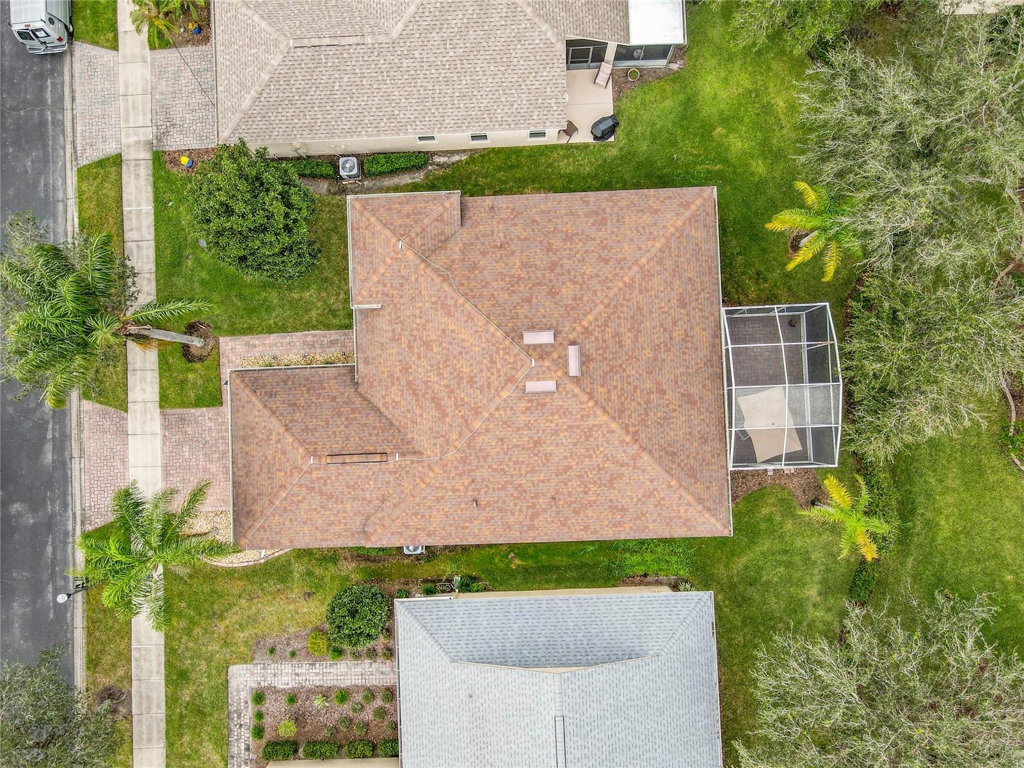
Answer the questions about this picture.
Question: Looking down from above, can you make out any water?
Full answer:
No, the scene doesn't show any water.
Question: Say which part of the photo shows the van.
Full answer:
Look in the top left portion of the view to spot the van.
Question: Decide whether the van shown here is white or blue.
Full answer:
The van is white.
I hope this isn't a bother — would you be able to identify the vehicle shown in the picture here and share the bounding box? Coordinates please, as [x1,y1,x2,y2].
[2,0,72,54]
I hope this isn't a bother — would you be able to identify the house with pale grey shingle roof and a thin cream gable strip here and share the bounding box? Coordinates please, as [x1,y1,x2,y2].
[269,586,721,768]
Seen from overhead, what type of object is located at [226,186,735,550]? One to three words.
house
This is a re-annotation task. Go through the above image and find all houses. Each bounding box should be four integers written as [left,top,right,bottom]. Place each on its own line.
[269,586,721,768]
[226,186,735,550]
[211,0,686,157]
